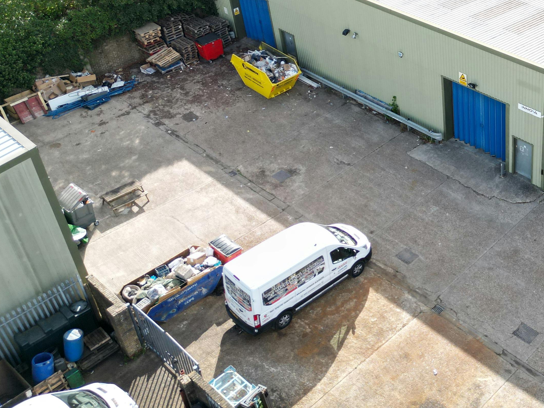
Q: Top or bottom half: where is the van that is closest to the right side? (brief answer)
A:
bottom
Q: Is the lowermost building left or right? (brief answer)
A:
left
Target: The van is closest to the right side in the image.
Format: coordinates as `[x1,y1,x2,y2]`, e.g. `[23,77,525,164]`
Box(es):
[216,217,374,343]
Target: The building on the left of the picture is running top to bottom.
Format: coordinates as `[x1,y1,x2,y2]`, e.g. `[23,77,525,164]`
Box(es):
[0,113,90,326]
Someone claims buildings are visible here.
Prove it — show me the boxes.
[224,0,544,190]
[0,113,90,326]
